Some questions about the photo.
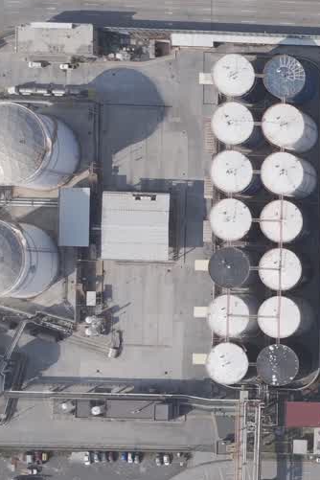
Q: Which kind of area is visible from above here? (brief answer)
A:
industrial area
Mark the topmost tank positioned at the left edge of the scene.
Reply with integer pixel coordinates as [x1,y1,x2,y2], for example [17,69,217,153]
[0,102,81,193]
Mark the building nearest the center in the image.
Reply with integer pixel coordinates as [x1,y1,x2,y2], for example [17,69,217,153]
[102,193,177,261]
